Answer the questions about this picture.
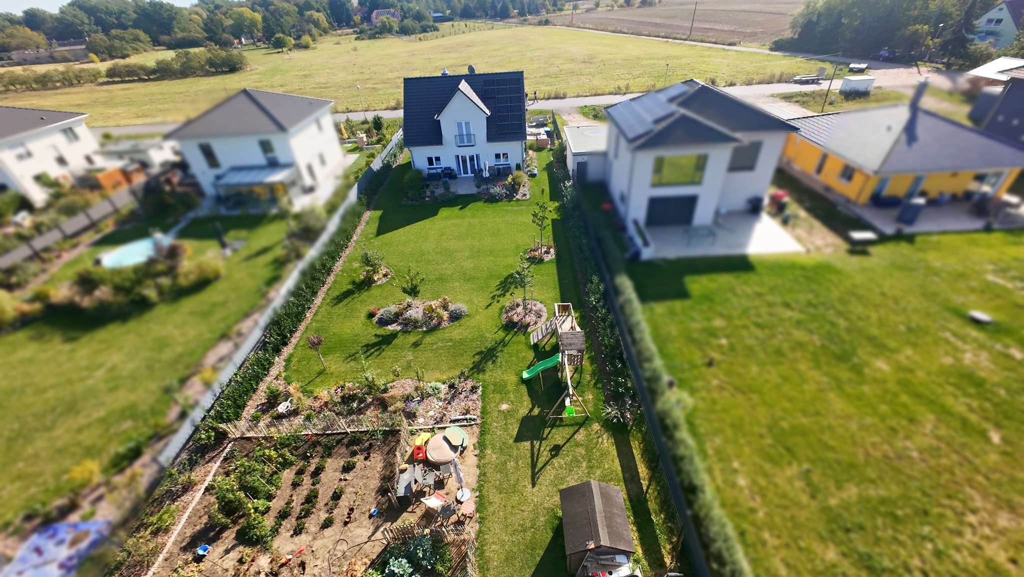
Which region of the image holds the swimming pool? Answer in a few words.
left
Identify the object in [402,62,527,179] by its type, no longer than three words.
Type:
house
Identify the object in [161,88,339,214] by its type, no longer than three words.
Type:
house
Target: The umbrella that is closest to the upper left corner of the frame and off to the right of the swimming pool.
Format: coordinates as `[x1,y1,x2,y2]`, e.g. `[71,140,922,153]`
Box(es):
[217,221,233,255]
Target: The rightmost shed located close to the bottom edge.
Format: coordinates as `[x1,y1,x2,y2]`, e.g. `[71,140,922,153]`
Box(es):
[560,477,635,577]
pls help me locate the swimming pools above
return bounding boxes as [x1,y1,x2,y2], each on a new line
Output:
[90,231,170,265]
